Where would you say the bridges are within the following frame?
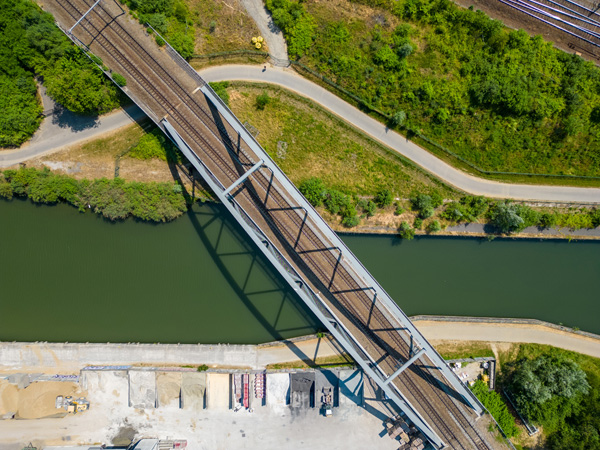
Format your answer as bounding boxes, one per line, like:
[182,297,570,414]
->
[125,45,488,450]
